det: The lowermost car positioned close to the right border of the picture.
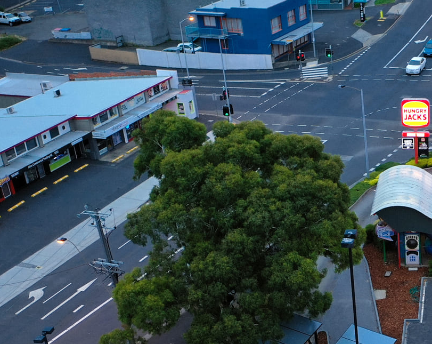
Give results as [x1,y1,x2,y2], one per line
[403,55,428,73]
